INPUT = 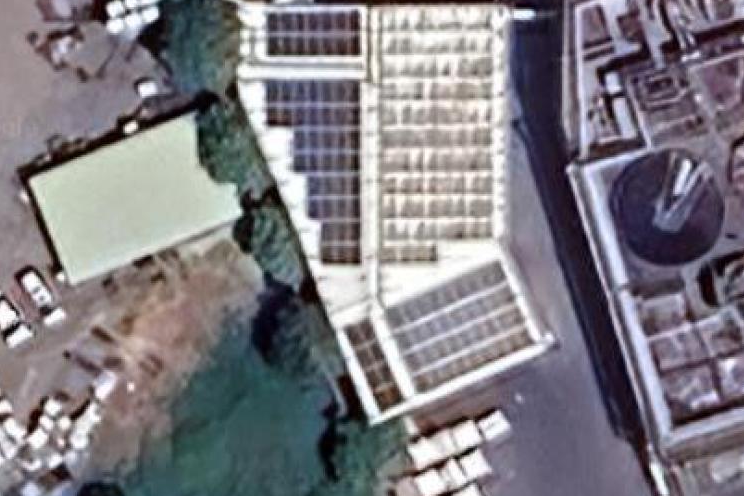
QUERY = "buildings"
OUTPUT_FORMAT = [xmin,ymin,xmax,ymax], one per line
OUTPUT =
[238,2,555,426]
[29,113,242,284]
[563,0,744,450]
